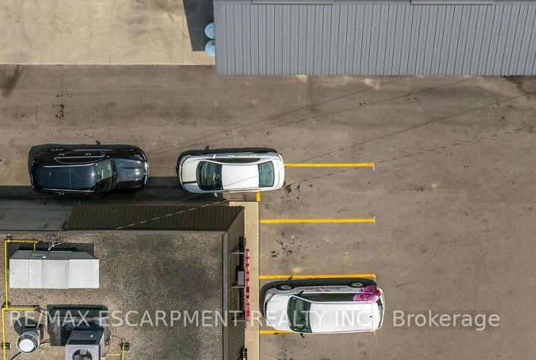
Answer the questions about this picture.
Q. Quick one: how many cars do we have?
three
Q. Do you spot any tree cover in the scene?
No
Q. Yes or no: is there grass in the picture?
No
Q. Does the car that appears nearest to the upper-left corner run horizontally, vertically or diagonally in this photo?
horizontally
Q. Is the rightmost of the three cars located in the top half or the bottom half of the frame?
bottom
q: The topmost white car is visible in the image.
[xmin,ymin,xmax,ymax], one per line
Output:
[178,153,285,203]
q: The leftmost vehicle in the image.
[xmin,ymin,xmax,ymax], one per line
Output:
[30,151,150,205]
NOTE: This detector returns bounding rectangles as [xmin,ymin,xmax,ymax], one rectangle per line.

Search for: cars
[178,153,285,203]
[30,151,150,205]
[263,281,385,341]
